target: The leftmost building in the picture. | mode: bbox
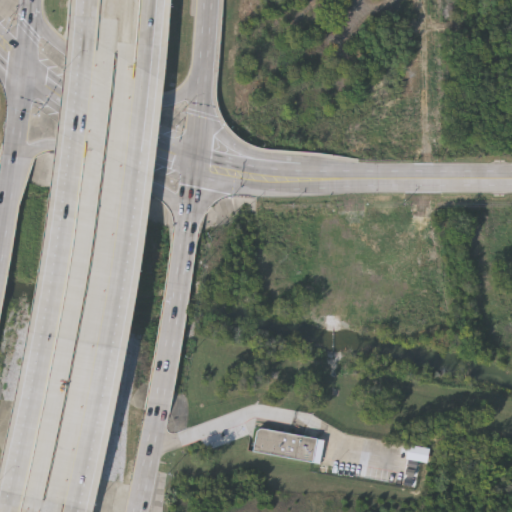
[253,428,324,464]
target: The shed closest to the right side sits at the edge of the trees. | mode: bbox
[406,445,430,464]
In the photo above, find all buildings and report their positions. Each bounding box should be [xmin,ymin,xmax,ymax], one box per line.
[253,428,324,464]
[406,445,430,464]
